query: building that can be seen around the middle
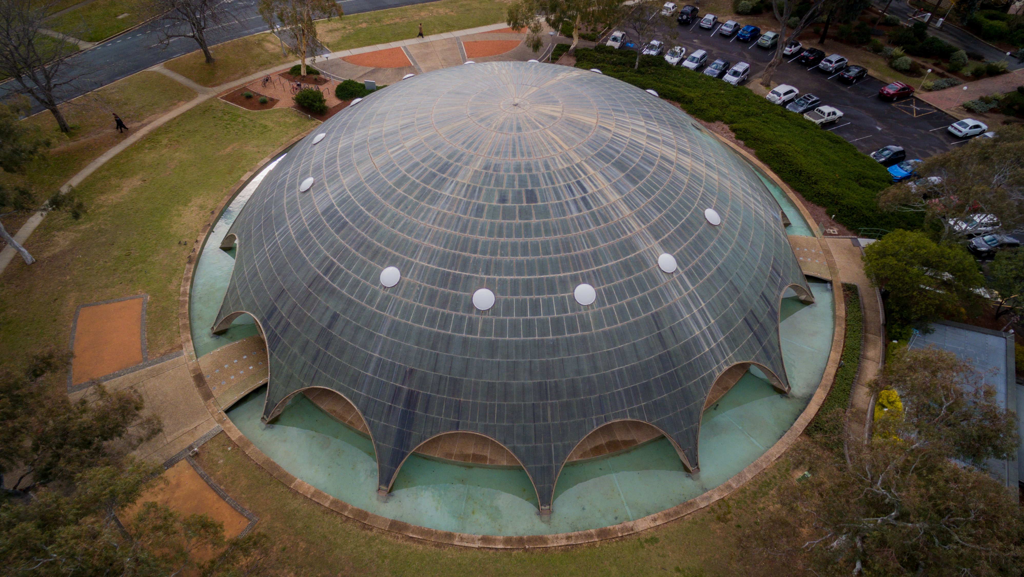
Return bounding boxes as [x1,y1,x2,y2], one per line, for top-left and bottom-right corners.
[200,59,825,531]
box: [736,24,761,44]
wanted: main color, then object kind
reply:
blue car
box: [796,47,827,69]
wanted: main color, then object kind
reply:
black car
